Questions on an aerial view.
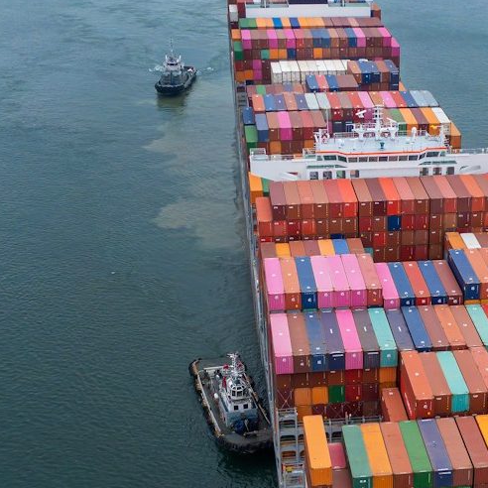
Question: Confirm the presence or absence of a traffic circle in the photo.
No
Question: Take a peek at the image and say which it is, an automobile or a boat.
boat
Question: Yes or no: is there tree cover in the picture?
No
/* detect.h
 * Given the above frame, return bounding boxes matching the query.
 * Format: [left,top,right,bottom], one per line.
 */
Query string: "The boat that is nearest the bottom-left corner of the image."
[187,340,274,463]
